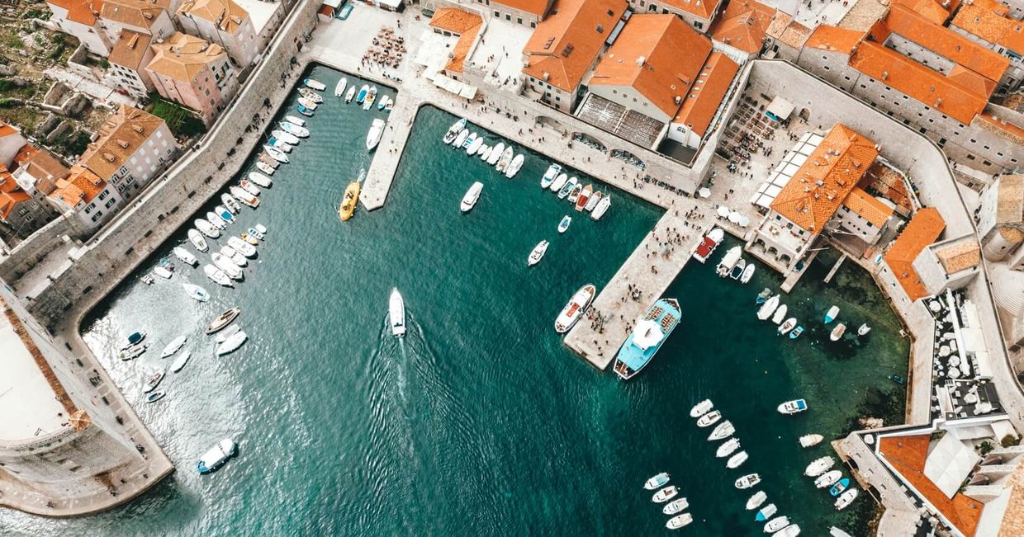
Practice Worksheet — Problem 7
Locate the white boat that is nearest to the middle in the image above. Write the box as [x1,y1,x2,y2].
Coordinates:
[528,239,550,266]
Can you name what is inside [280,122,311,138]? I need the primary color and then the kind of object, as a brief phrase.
white boat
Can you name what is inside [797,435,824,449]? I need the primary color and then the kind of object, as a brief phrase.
white boat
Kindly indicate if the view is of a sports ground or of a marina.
marina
